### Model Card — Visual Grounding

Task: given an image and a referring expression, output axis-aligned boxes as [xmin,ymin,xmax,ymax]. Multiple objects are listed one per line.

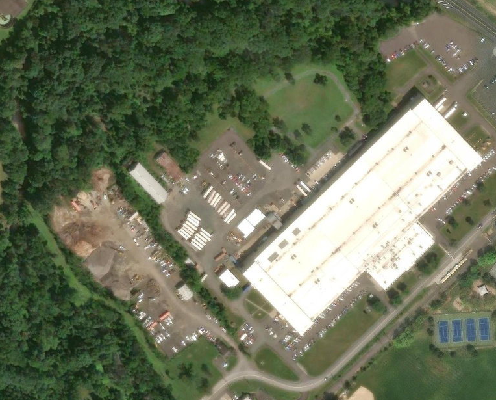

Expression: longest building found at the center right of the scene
[242,98,482,336]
